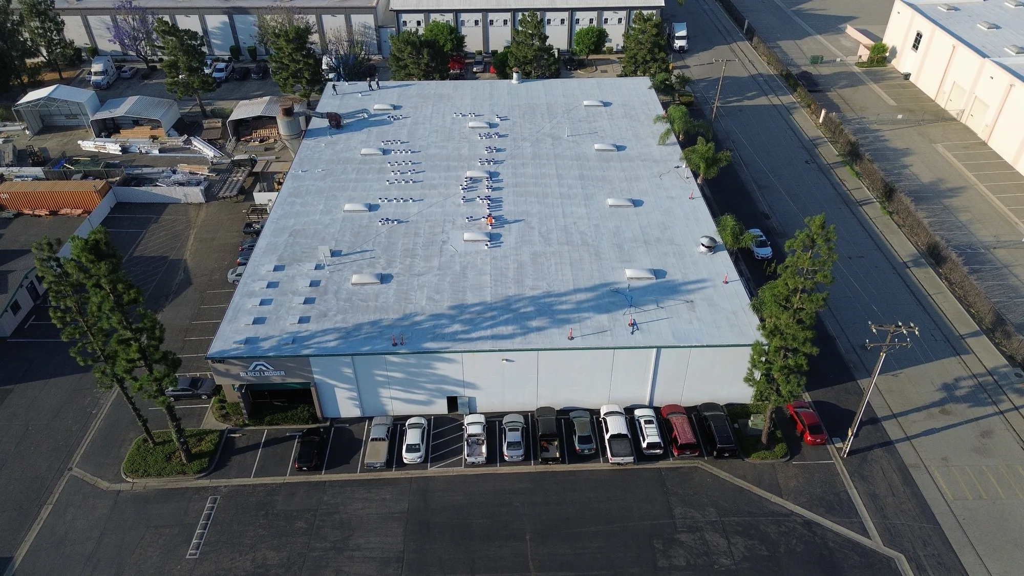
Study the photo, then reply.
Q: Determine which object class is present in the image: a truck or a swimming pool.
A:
truck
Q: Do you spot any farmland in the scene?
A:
No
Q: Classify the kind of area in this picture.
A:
industrial area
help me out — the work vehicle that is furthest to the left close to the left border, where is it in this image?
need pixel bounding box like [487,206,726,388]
[22,144,48,169]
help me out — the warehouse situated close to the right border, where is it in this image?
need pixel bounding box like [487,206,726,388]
[884,0,1024,177]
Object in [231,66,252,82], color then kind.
black car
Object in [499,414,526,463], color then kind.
gray car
